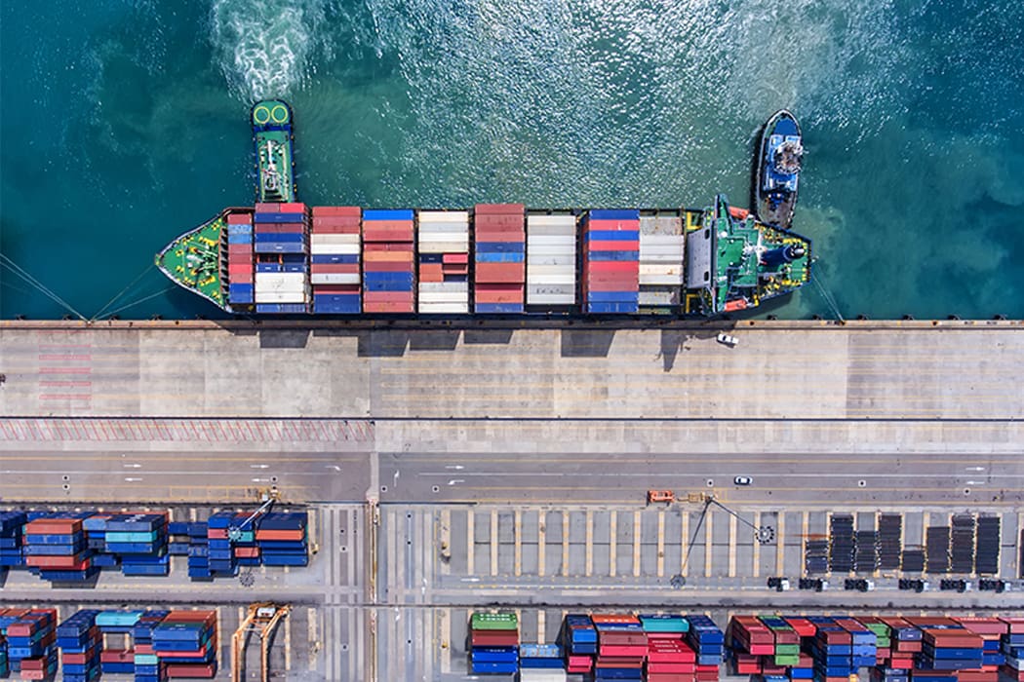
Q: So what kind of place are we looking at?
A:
port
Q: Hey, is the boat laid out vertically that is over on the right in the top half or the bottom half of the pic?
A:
top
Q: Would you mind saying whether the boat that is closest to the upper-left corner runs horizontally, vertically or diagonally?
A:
vertically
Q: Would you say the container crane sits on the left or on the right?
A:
left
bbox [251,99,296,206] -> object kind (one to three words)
boat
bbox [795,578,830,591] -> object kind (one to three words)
vehicle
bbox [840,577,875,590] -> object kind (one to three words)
vehicle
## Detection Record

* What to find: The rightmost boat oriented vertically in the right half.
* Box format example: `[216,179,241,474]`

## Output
[755,109,816,227]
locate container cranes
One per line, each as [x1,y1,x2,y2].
[231,606,288,682]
